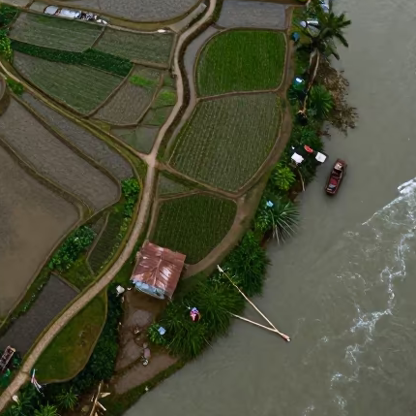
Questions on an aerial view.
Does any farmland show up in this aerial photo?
Yes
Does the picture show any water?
Yes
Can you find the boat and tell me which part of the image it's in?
right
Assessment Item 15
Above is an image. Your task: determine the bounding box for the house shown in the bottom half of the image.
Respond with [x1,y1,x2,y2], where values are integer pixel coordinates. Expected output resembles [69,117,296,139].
[125,242,188,309]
